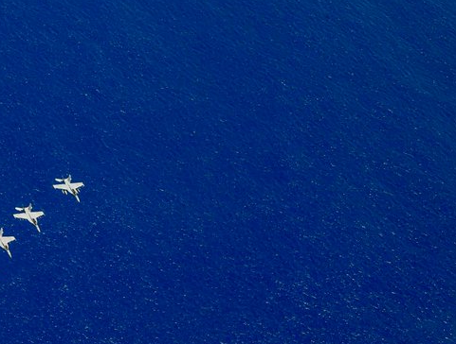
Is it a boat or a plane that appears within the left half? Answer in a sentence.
You can see a plane within the left half.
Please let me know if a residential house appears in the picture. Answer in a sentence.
No, there is no residential house in the image.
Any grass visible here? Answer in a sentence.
No, the scene doesn't show any grass.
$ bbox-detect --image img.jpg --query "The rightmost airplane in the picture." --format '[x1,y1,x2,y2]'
[53,174,84,202]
